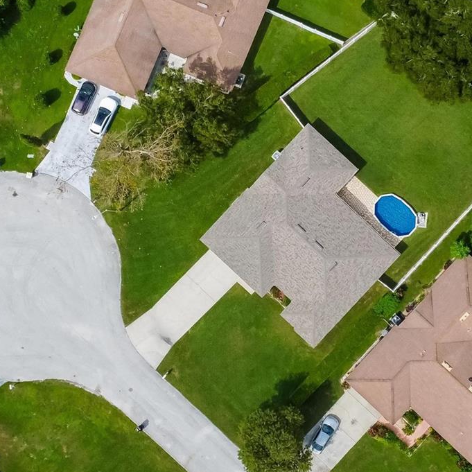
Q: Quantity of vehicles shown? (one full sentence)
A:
The count of vehicles comes to 3.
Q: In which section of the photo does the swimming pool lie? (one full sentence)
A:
The swimming pool is located in the right region of the scene.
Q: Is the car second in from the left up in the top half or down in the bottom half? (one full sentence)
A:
You can find the car second in from the left in the top half.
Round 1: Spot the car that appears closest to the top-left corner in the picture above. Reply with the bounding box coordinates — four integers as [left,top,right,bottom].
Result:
[71,79,99,118]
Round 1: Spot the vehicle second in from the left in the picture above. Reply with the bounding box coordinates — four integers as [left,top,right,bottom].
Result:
[91,95,118,136]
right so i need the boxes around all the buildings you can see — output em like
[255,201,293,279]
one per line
[346,254,472,463]
[65,0,270,99]
[199,123,401,348]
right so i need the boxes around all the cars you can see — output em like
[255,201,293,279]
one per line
[91,95,118,136]
[312,414,339,455]
[71,79,99,118]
